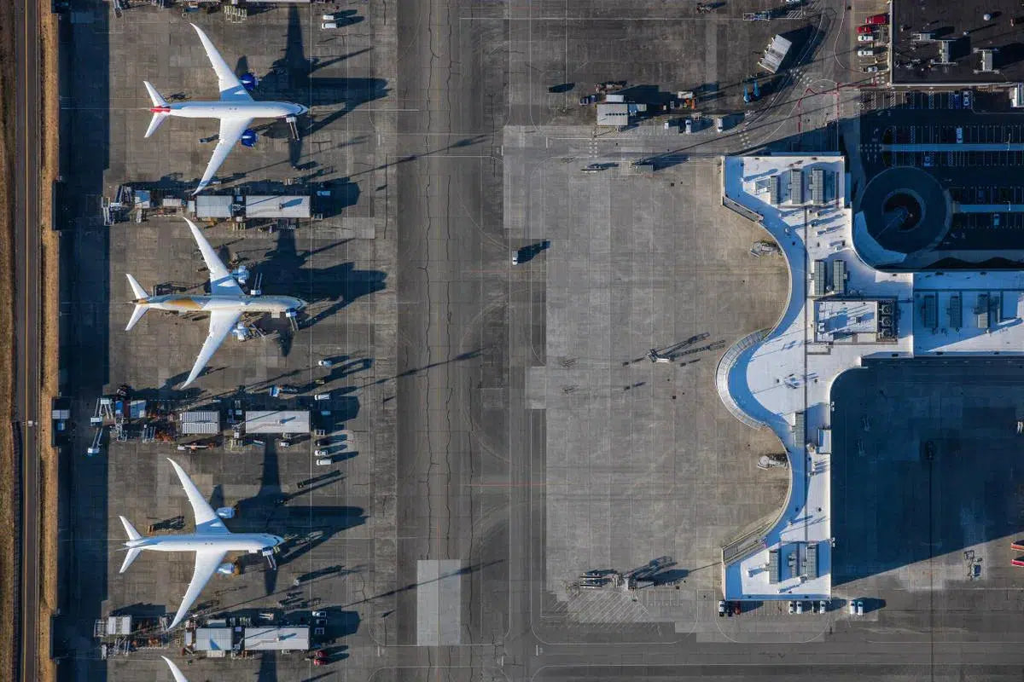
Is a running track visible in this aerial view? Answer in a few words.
No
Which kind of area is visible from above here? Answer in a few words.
airport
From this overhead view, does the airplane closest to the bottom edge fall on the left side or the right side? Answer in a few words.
left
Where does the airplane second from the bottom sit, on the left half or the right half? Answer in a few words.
left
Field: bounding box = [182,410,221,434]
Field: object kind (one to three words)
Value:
shed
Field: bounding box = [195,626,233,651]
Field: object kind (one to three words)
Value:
shed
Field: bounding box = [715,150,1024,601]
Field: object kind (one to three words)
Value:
building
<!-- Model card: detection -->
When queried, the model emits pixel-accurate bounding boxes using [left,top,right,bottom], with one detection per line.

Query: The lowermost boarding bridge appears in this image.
[611,574,637,592]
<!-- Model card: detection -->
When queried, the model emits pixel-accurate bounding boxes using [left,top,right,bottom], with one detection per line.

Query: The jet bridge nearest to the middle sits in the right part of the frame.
[644,351,677,363]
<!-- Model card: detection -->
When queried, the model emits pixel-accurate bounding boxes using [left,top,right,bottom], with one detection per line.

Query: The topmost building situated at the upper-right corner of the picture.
[886,0,1024,86]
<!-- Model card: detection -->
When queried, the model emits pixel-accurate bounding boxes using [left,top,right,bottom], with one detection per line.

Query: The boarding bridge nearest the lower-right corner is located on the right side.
[756,455,789,469]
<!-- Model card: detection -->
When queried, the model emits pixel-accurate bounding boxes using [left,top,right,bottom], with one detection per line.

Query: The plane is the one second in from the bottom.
[116,458,285,631]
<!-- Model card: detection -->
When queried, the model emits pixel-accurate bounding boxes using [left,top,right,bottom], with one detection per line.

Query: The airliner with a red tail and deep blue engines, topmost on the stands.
[139,23,308,196]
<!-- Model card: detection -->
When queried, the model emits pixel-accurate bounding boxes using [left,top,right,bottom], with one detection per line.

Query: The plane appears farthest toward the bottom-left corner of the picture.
[161,658,186,682]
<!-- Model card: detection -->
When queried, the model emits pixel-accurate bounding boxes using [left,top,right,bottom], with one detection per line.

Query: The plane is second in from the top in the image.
[121,218,309,391]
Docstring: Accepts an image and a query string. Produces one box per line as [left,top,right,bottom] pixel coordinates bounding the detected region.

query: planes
[116,458,285,631]
[121,218,309,391]
[161,658,186,682]
[139,23,308,196]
